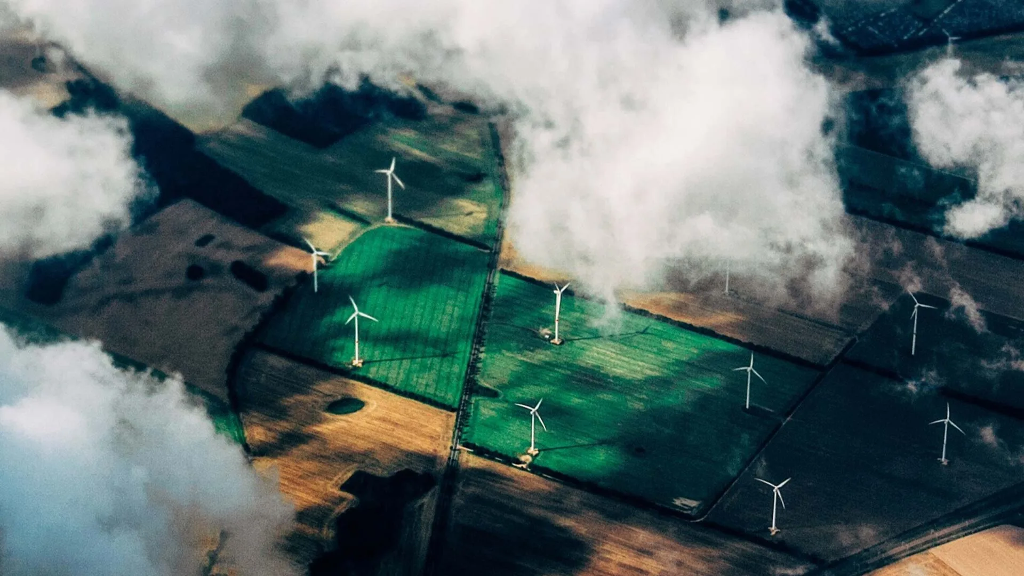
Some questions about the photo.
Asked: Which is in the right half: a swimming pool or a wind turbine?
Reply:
wind turbine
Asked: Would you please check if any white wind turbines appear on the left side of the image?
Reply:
Yes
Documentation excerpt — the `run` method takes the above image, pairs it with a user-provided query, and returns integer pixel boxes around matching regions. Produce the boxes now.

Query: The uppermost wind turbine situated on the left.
[376,158,404,219]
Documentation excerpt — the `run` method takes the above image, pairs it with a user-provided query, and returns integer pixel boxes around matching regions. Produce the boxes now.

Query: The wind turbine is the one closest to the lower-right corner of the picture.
[929,401,966,462]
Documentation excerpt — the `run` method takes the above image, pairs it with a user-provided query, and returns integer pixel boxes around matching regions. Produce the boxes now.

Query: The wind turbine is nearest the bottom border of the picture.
[757,477,790,530]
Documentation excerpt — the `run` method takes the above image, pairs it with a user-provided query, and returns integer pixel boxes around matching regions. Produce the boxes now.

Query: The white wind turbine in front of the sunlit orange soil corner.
[304,237,330,293]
